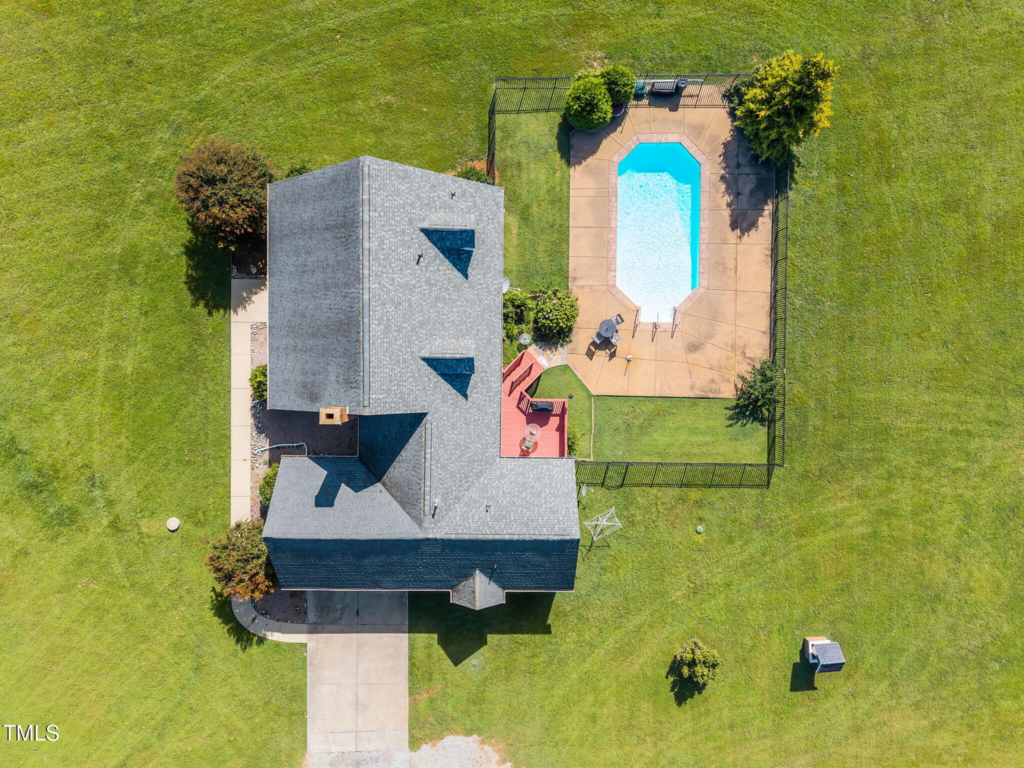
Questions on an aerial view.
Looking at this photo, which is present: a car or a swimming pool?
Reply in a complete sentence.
It is a swimming pool that can be seen here.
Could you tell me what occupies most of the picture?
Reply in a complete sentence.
What you mostly see from above here is grass.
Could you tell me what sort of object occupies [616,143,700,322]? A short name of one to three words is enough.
swimming pool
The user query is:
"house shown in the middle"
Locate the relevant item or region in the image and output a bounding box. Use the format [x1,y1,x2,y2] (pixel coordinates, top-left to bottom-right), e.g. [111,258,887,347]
[263,155,580,611]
